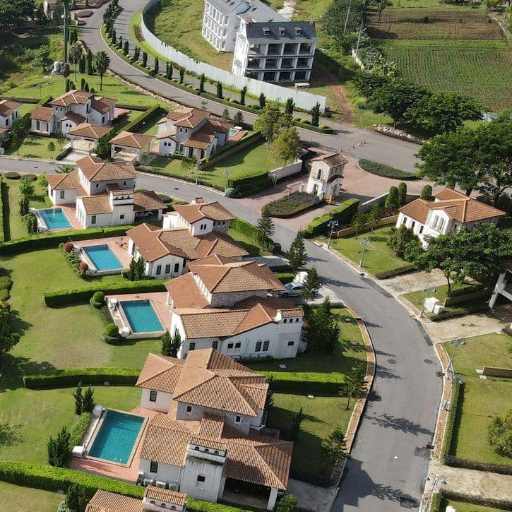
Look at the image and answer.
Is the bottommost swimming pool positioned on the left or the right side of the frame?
left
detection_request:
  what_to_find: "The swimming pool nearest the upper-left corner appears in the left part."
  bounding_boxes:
[26,203,76,231]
